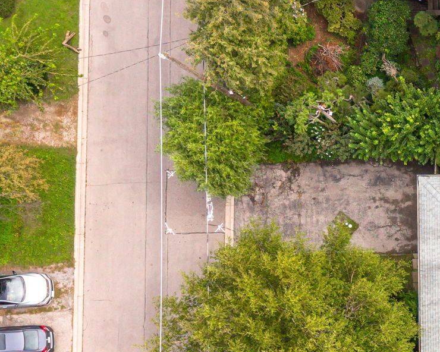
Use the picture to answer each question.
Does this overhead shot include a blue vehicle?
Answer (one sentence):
No, no blue vehicle is visible in the view.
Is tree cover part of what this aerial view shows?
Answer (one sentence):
Yes, some tree cover is visible.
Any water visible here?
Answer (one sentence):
No, the scene doesn't show any water.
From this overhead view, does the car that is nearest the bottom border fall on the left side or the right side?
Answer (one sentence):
You can find the car that is nearest the bottom border on the left side of the picture.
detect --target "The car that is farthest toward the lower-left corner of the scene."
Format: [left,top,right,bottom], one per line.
[0,323,55,352]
